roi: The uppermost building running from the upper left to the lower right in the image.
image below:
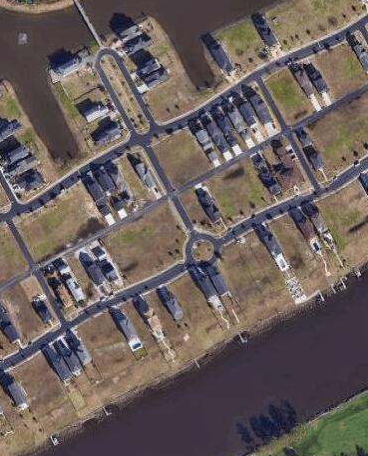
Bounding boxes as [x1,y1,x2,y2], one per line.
[257,18,280,48]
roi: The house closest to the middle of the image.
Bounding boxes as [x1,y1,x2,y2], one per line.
[199,190,222,224]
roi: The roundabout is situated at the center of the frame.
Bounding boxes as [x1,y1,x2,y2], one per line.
[183,230,224,269]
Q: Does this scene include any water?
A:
Yes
